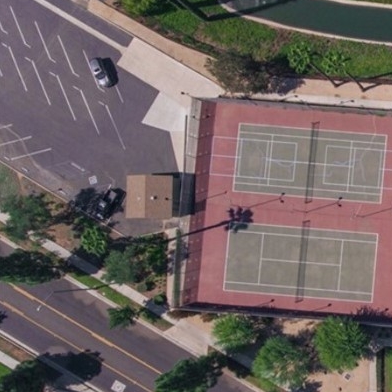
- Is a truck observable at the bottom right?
No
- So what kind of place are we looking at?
sports ground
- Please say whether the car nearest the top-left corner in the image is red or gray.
gray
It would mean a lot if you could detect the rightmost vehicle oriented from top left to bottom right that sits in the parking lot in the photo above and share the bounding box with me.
[86,56,111,88]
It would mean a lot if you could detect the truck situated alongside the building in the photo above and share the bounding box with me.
[88,186,117,221]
